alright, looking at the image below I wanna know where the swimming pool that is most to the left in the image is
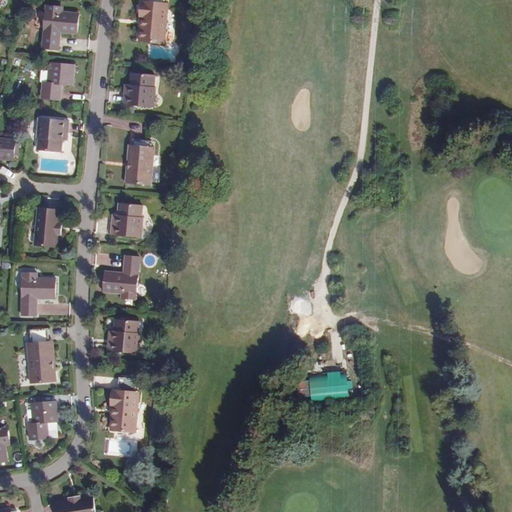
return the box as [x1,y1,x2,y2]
[40,158,68,173]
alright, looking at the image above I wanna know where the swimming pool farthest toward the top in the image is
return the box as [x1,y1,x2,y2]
[148,44,177,62]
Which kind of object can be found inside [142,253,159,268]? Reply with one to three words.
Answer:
swimming pool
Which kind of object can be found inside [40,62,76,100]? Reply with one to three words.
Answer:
house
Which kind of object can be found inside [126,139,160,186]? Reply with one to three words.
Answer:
house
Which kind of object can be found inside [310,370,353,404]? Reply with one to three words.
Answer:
barn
